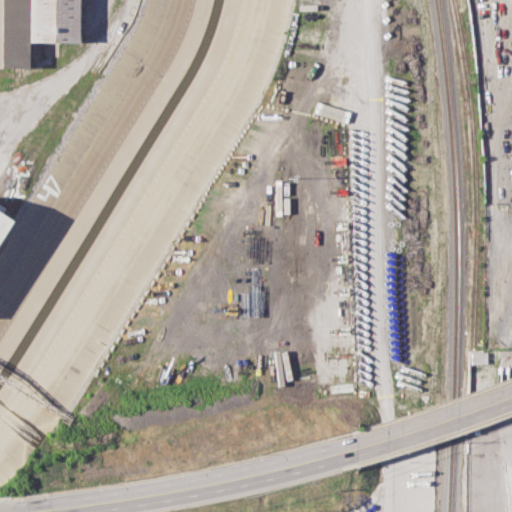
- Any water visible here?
Yes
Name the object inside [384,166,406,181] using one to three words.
vehicle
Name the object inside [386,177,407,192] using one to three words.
vehicle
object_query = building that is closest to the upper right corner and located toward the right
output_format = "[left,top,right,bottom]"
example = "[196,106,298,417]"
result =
[314,104,352,125]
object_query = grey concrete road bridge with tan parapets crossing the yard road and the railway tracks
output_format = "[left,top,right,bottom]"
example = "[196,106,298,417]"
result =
[354,377,512,466]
